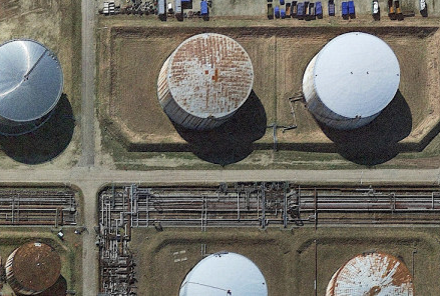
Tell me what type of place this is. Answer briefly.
industrial area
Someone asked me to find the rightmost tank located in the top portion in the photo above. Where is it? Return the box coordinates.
[301,31,401,131]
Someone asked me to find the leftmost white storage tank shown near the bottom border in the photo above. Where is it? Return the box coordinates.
[169,252,267,296]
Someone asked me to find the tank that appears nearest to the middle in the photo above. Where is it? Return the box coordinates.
[156,32,254,132]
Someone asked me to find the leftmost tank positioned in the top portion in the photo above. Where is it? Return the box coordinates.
[0,39,64,134]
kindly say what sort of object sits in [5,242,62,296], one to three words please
storage tank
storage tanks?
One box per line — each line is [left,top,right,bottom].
[5,242,62,296]
[169,252,267,296]
[324,250,416,296]
[156,32,254,132]
[0,39,64,134]
[301,31,401,131]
